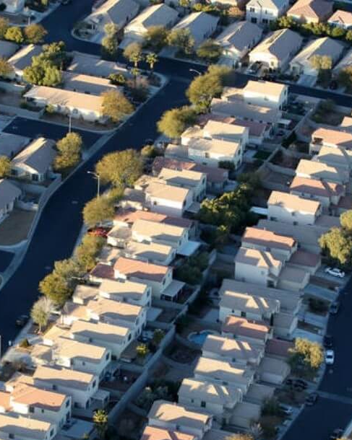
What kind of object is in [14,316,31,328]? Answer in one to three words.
vehicle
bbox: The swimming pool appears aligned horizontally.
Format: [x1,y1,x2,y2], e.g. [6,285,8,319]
[182,323,221,338]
